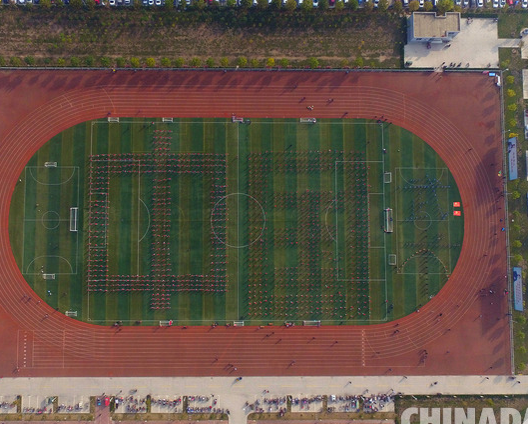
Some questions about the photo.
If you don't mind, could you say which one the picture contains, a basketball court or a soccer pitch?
soccer pitch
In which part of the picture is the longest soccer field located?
center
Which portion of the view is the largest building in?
top right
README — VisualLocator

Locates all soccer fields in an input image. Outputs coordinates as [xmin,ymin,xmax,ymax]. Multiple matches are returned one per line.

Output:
[393,167,452,278]
[8,117,465,325]
[22,165,83,277]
